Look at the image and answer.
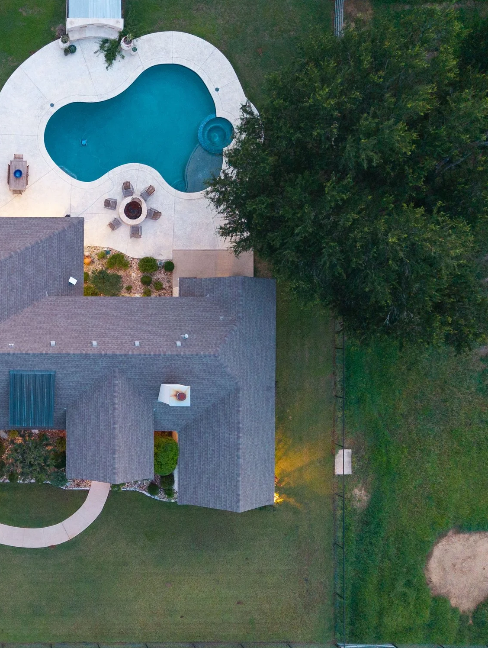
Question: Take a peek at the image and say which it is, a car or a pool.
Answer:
pool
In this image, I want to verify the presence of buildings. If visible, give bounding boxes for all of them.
[0,215,276,513]
[64,0,124,43]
